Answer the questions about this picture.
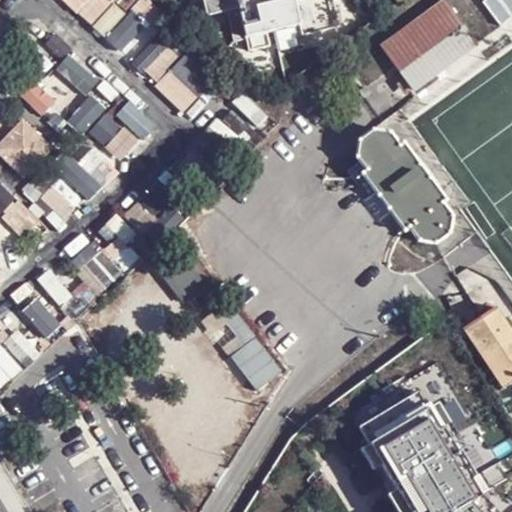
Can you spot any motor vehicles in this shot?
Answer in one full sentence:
Yes, you can see a motor vehicle in this photo.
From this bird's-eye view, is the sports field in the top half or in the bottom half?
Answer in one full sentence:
The sports field sits in the top half of the picture.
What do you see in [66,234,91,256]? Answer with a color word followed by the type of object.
white camper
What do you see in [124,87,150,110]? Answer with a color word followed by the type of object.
white vehicle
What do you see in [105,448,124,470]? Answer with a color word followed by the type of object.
gray car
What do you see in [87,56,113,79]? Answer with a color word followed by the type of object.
white vehicle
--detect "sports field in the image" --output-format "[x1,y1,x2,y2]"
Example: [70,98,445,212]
[410,50,512,280]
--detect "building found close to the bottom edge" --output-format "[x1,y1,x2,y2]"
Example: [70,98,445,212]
[358,364,508,512]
